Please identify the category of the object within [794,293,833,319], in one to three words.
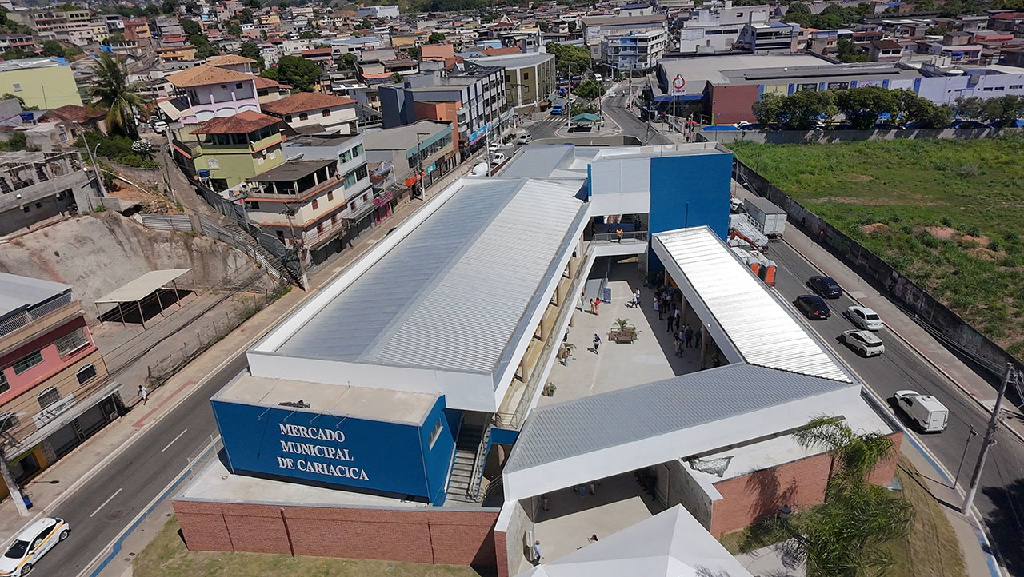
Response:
car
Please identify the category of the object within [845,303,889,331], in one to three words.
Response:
car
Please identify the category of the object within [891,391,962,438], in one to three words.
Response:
van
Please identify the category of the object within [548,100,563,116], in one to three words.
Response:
vehicle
